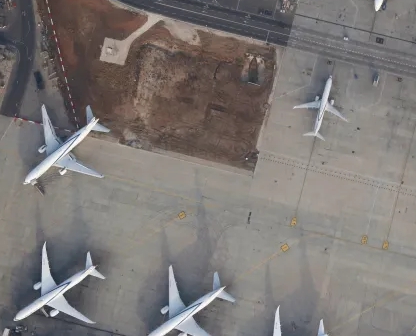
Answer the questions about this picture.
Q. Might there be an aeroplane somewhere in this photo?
Yes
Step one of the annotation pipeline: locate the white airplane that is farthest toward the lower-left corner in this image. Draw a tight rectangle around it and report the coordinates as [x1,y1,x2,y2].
[14,242,105,323]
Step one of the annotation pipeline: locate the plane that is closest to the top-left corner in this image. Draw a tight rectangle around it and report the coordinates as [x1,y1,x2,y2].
[24,104,109,184]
